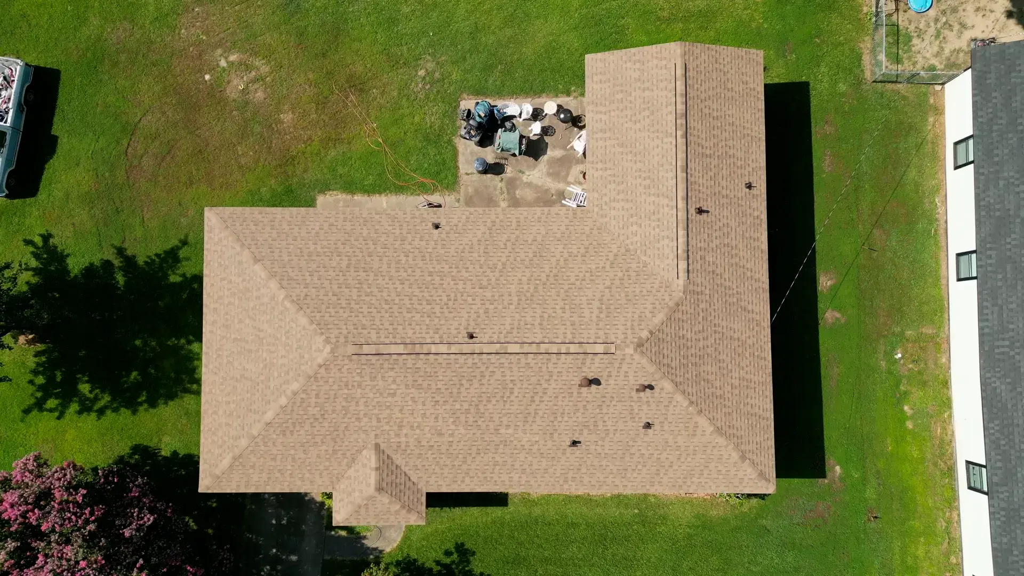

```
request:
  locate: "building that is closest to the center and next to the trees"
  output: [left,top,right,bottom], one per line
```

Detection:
[197,40,777,527]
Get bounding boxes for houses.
[197,40,777,527]
[943,42,1024,576]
